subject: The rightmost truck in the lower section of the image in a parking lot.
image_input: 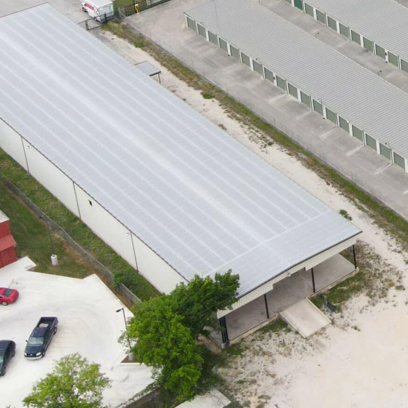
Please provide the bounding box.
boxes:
[26,315,58,353]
